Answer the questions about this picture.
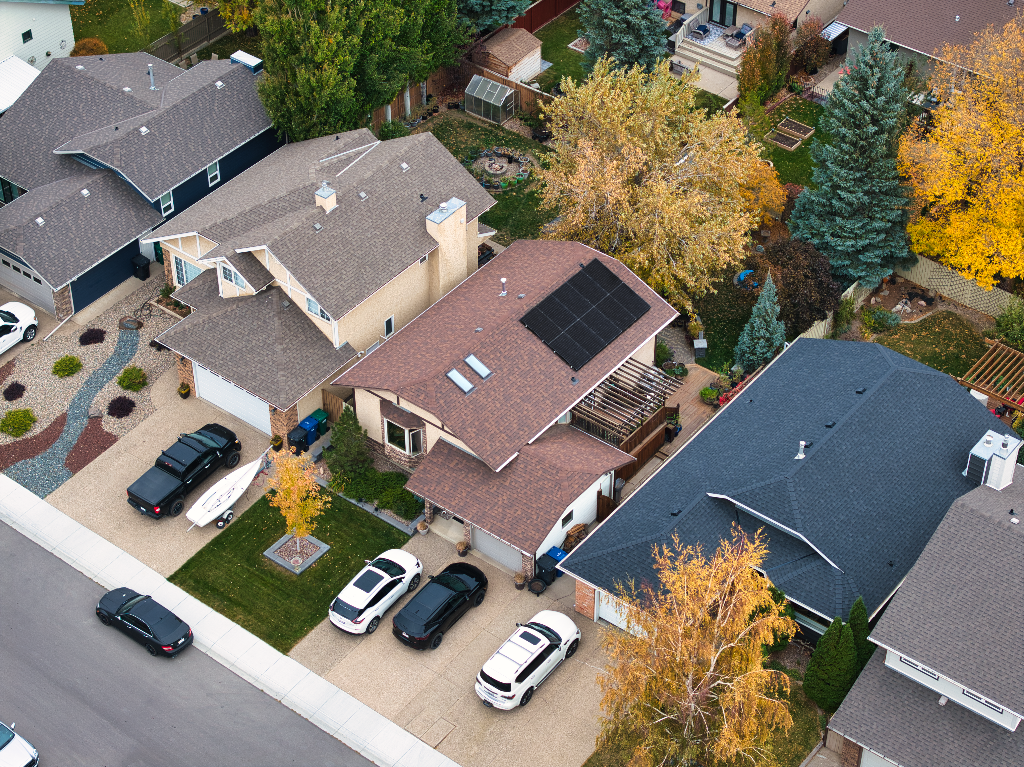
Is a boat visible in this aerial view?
Yes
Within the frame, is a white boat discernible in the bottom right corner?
No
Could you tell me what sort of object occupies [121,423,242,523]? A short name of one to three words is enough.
truck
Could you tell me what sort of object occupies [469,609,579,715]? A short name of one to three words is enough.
car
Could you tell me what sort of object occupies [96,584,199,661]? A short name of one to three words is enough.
car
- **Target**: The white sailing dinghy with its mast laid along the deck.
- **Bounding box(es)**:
[185,445,273,532]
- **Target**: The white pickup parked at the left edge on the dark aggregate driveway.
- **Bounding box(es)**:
[0,301,38,354]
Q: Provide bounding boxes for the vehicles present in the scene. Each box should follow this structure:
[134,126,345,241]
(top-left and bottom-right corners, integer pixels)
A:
[320,549,420,640]
[0,720,38,767]
[386,563,486,656]
[0,301,38,354]
[121,423,242,523]
[96,584,199,661]
[469,609,579,715]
